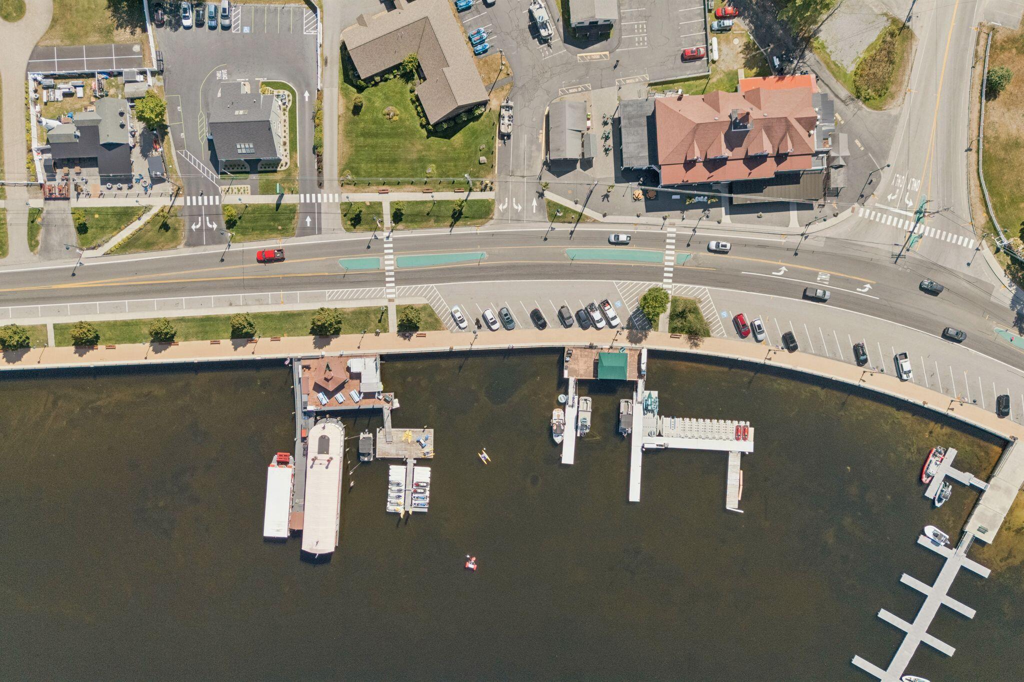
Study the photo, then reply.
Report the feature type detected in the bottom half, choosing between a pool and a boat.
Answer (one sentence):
You can see a boat in the bottom half.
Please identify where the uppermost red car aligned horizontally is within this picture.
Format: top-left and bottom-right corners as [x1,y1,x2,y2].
[714,7,739,19]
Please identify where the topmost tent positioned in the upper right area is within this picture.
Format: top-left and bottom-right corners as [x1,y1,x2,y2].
[828,133,850,168]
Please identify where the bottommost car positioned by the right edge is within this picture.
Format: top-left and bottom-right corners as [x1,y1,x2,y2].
[995,394,1011,418]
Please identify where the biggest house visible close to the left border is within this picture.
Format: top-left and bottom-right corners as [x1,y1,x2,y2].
[47,97,137,175]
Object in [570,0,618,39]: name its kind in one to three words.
house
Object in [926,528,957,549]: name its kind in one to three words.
boat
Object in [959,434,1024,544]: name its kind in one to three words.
pier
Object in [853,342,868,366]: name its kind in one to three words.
car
